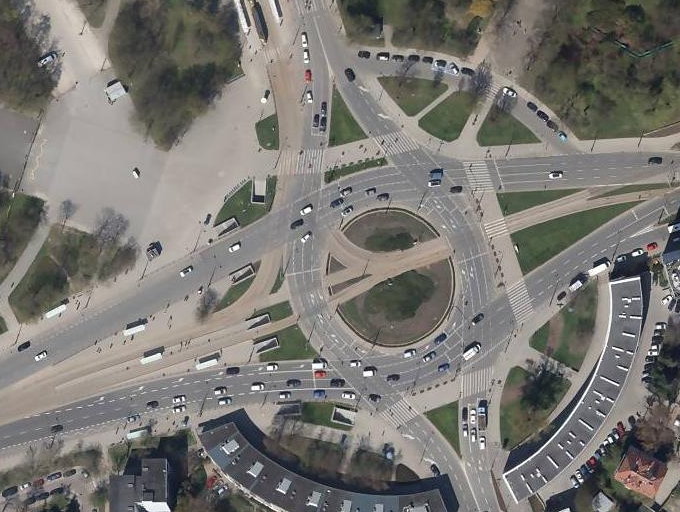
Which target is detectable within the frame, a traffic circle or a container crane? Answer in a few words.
traffic circle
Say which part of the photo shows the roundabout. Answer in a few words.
center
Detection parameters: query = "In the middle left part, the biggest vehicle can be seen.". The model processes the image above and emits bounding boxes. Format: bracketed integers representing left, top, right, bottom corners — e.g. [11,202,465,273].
[148,242,161,258]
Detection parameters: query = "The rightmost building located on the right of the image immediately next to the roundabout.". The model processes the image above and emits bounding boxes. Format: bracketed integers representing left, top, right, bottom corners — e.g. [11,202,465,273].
[504,277,643,504]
